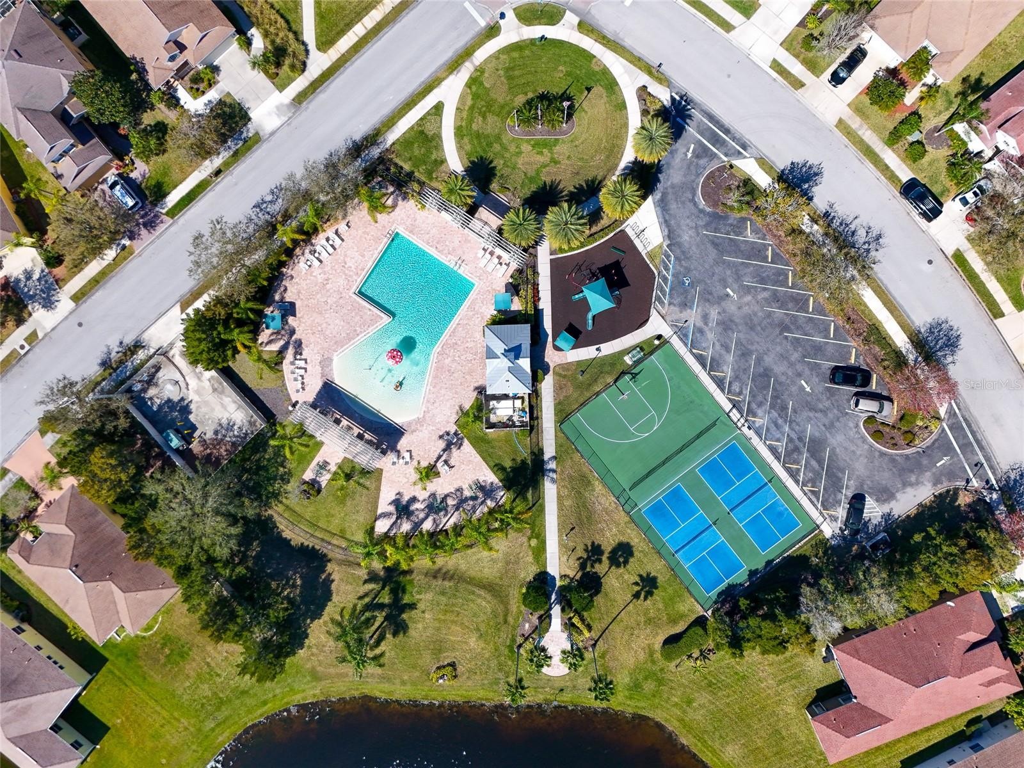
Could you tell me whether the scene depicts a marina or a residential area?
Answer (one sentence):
This image shows a residential area.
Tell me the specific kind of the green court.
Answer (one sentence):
In the photo, the green court shows up as a basketball court.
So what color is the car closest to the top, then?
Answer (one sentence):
The car closest to the top is black.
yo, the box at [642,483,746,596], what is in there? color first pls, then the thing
blue sports court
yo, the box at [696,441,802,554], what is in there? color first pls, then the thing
blue sports court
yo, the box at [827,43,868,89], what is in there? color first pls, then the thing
black car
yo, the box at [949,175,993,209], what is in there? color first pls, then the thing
white car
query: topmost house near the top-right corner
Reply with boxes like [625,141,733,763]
[858,0,1024,84]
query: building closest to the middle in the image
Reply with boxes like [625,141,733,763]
[485,324,532,394]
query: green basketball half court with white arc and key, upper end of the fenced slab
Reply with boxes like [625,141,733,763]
[556,344,817,615]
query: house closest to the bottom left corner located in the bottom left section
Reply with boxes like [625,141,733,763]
[0,604,93,768]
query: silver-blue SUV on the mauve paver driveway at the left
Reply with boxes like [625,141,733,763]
[108,174,143,213]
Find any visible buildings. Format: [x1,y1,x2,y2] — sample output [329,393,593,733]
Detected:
[937,715,1024,768]
[0,0,104,166]
[807,587,1023,763]
[858,0,1024,84]
[967,70,1024,183]
[485,324,532,394]
[7,484,182,645]
[0,185,49,264]
[0,604,93,768]
[80,0,239,93]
